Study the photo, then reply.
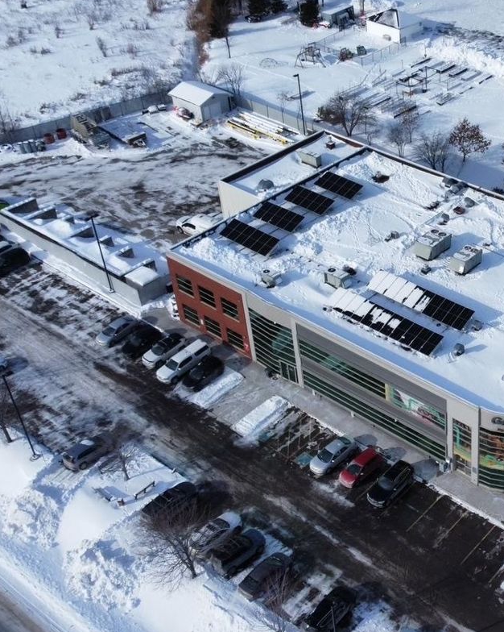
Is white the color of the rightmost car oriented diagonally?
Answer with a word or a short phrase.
No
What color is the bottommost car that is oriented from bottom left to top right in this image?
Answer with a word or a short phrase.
black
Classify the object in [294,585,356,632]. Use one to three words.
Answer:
car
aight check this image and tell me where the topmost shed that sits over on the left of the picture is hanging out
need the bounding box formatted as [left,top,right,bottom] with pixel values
[157,78,233,119]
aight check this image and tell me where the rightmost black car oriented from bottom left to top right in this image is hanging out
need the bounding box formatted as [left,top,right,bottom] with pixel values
[364,461,415,508]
